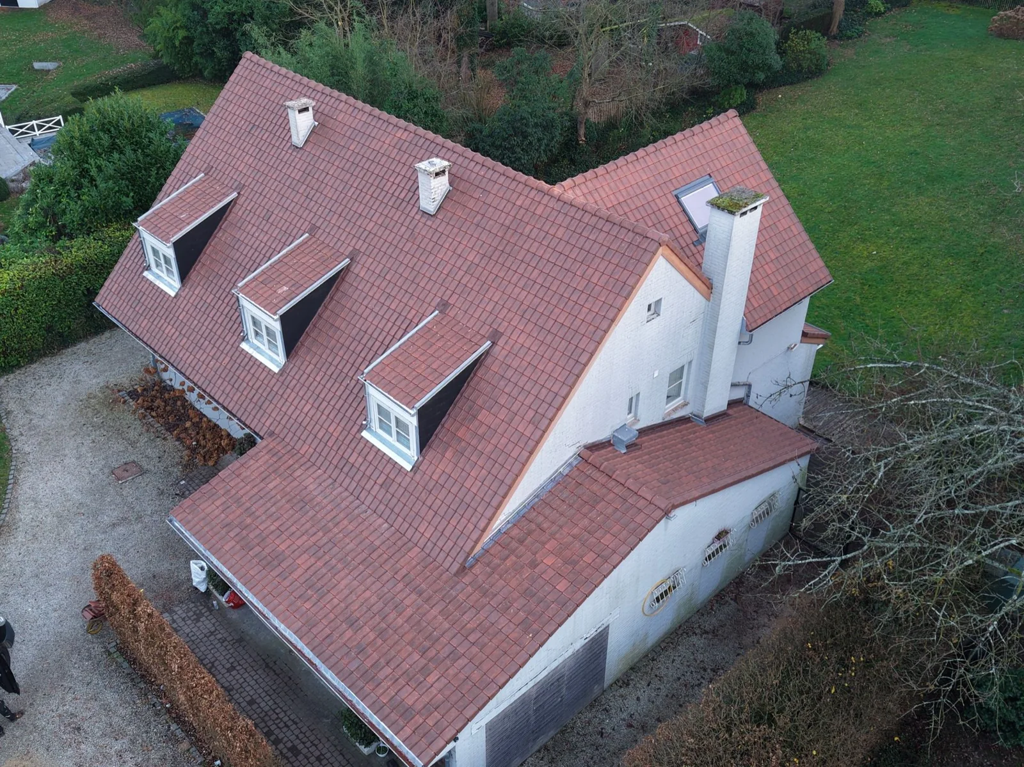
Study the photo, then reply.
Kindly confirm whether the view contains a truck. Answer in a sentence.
No, no truck is visible in the scene.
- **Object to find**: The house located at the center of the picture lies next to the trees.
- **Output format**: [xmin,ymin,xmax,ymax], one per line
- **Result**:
[87,54,841,767]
